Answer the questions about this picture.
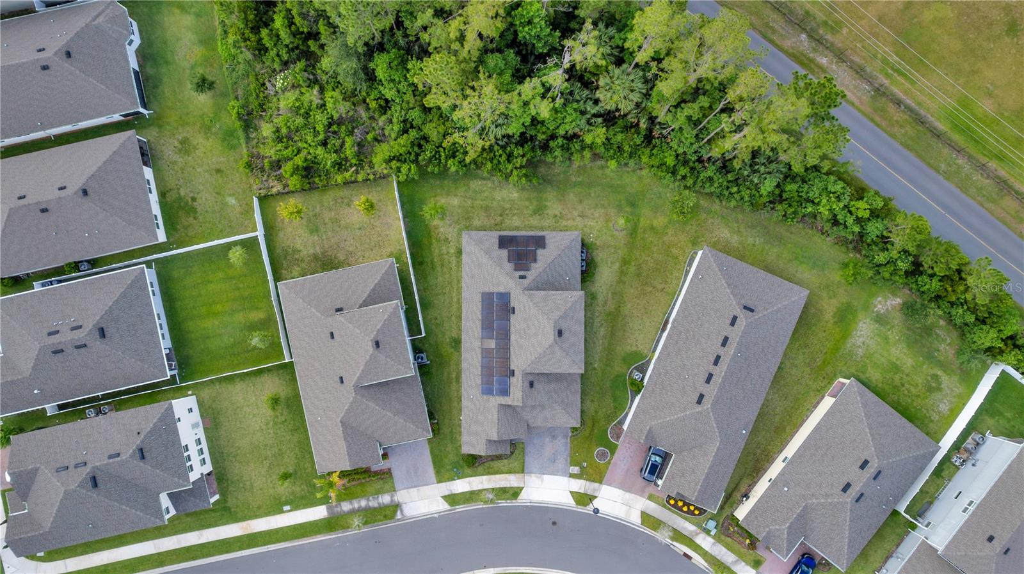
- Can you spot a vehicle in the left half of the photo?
No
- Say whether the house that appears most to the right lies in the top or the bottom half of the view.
bottom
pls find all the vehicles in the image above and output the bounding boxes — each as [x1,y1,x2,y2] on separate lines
[789,551,816,574]
[639,446,665,486]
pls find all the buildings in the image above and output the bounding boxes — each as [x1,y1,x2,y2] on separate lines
[4,396,220,558]
[278,258,433,475]
[0,129,166,278]
[875,435,1024,574]
[0,0,153,146]
[0,264,177,417]
[624,246,809,514]
[0,0,82,14]
[462,231,585,455]
[733,377,941,572]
